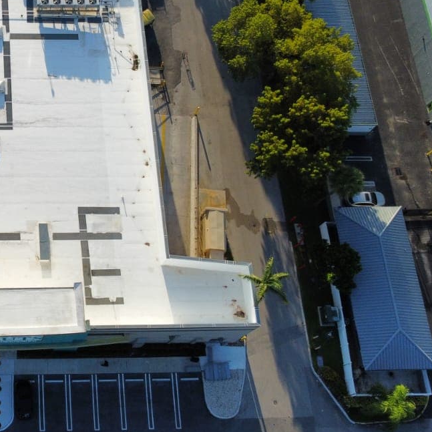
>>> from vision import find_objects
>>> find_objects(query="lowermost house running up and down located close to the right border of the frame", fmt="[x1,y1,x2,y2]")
[333,206,432,370]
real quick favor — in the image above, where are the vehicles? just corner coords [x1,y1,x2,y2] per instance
[345,188,391,207]
[14,375,37,427]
